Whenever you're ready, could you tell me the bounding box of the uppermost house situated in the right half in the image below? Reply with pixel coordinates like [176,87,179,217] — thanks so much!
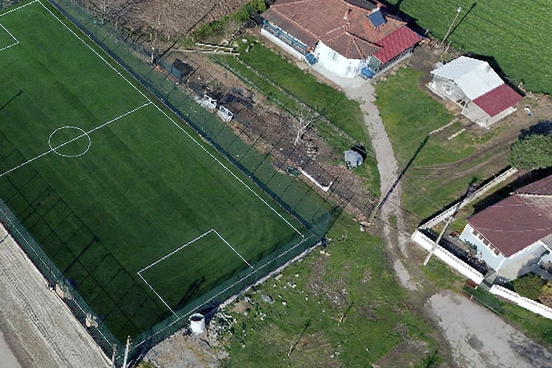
[258,0,421,80]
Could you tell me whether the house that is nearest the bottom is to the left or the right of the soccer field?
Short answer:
to the right of it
